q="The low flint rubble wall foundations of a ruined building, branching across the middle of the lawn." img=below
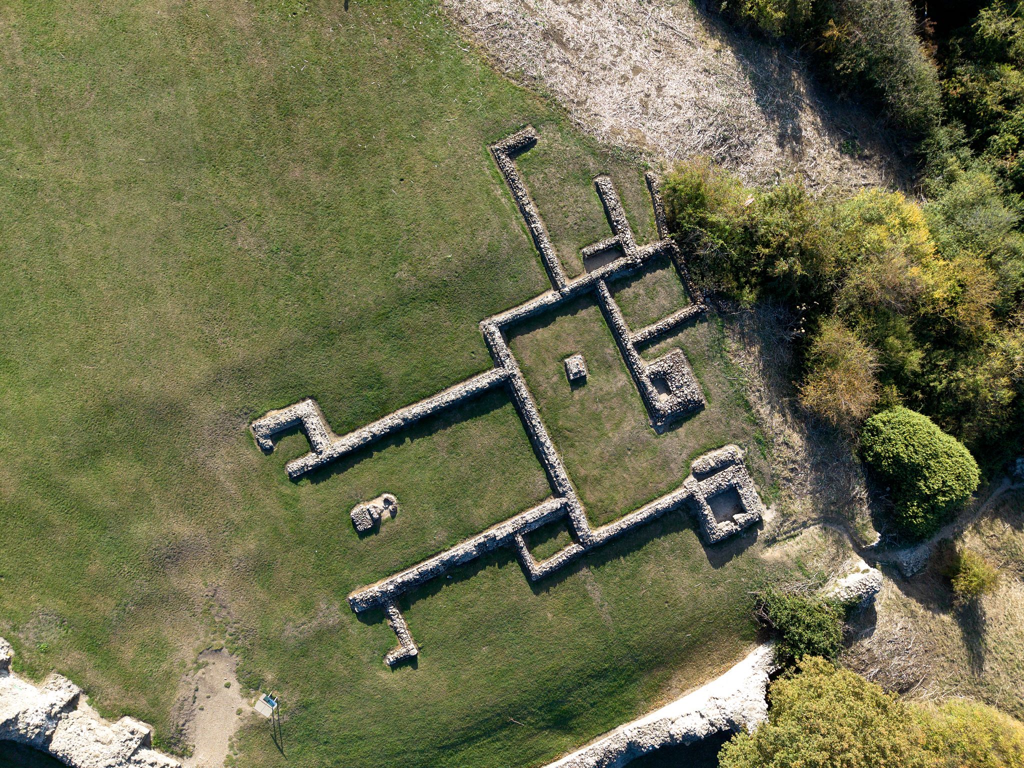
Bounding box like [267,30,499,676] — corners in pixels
[252,127,763,665]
